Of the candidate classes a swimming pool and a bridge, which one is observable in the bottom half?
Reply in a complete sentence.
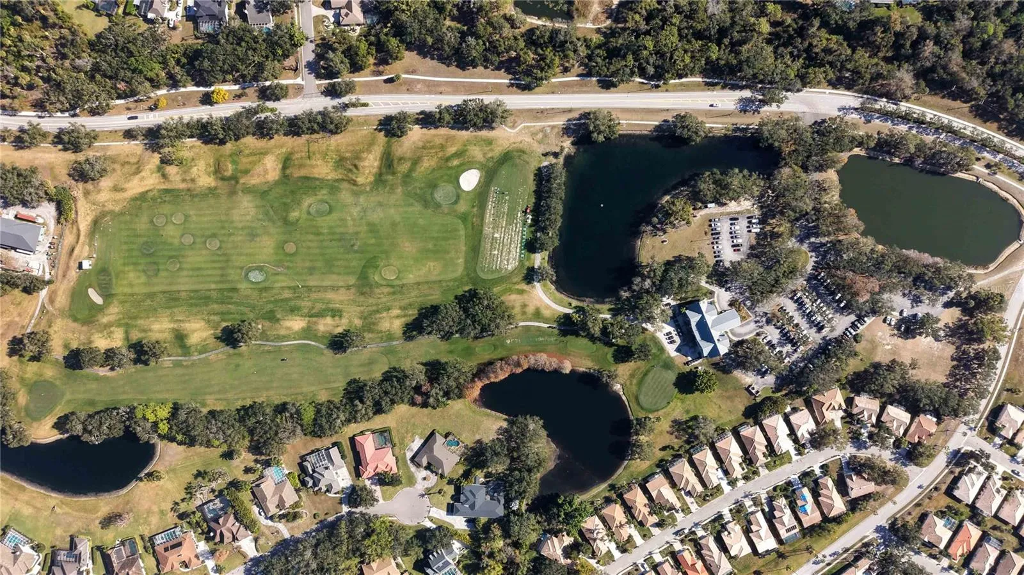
The feature located in the bottom half is a swimming pool.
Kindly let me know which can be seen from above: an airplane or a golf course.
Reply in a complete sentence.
Visible in the photo is a golf course.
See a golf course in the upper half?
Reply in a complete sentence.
No, the scene shows no golf course in the upper half.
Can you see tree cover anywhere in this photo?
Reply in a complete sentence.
Yes, tree cover shows up in the scene.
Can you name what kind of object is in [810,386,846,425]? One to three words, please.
house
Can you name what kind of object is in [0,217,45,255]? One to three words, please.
building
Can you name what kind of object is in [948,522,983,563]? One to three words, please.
house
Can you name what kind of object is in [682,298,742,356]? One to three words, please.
building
